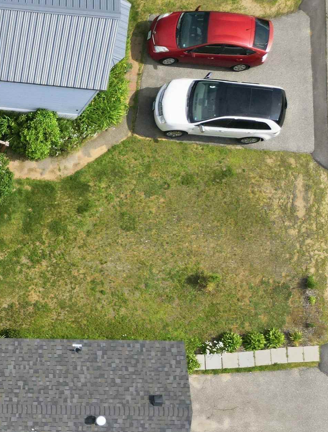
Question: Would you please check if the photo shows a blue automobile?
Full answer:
No, the picture doesn't show any blue automobile.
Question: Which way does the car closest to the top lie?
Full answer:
What the image shows is the car closest to the top lying horizontally.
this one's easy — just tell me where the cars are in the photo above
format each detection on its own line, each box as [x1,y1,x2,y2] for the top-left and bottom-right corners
[149,68,288,144]
[143,1,276,73]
